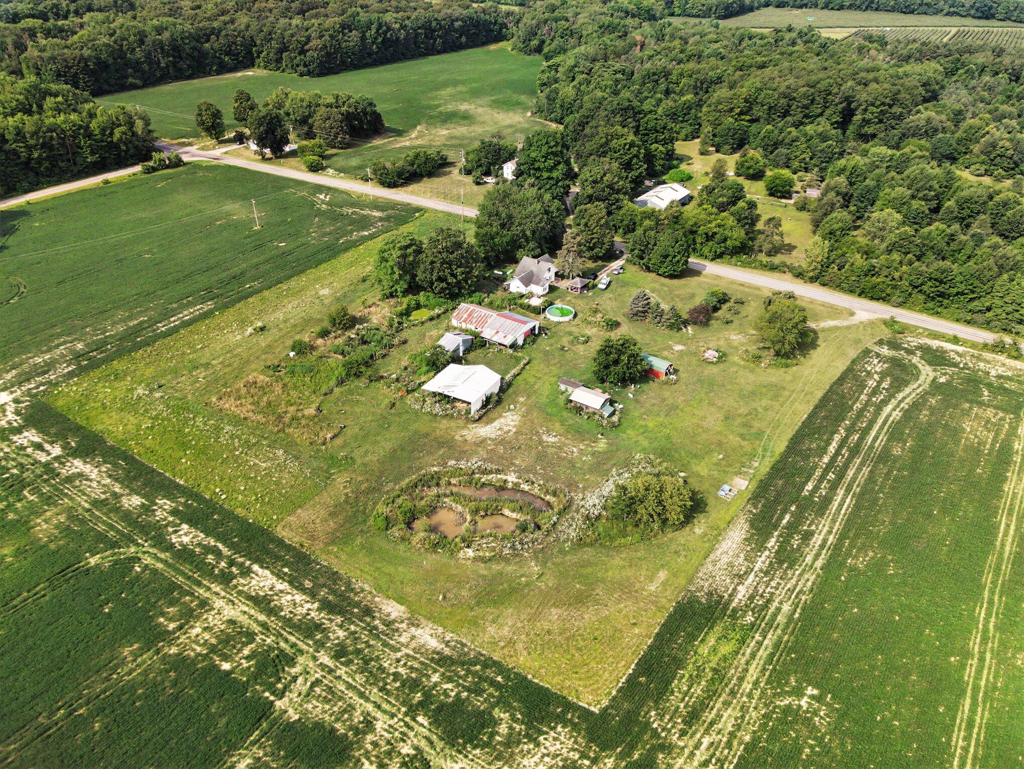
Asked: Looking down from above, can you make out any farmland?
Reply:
Yes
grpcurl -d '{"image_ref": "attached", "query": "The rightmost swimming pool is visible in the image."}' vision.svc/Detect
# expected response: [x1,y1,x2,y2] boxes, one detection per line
[546,303,574,322]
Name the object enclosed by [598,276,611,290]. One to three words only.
vehicle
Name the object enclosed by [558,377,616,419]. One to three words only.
shed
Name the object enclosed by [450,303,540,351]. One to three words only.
barn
